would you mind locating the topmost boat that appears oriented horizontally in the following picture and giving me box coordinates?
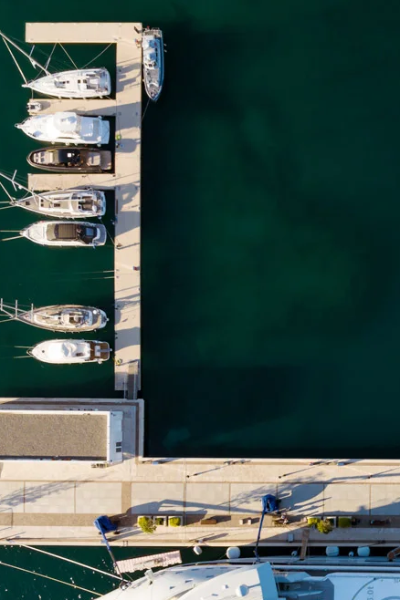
[0,32,114,99]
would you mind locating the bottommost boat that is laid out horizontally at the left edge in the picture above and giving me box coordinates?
[17,338,113,366]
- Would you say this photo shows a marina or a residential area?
marina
